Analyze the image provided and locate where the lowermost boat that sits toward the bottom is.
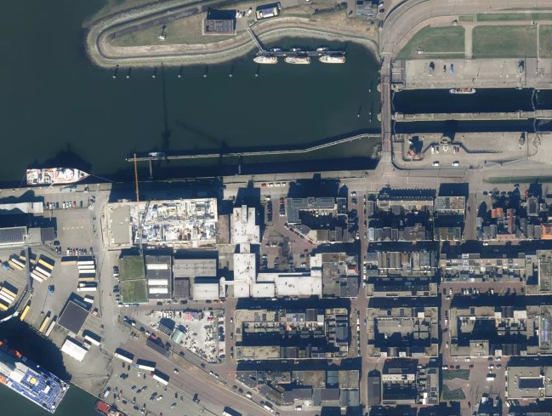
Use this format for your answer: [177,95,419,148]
[95,401,124,416]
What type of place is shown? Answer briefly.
residential area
